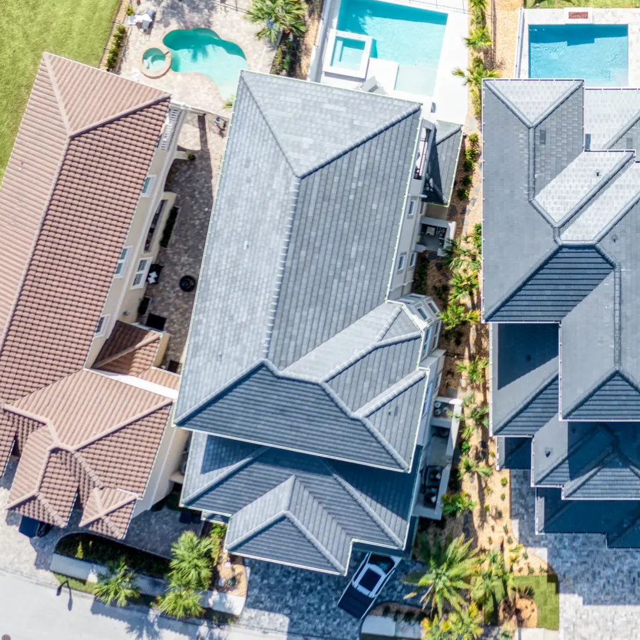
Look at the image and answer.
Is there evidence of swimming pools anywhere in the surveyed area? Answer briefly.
Yes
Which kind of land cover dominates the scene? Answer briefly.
buildings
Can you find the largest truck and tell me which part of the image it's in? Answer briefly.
bottom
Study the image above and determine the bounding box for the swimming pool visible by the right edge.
[524,19,633,87]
